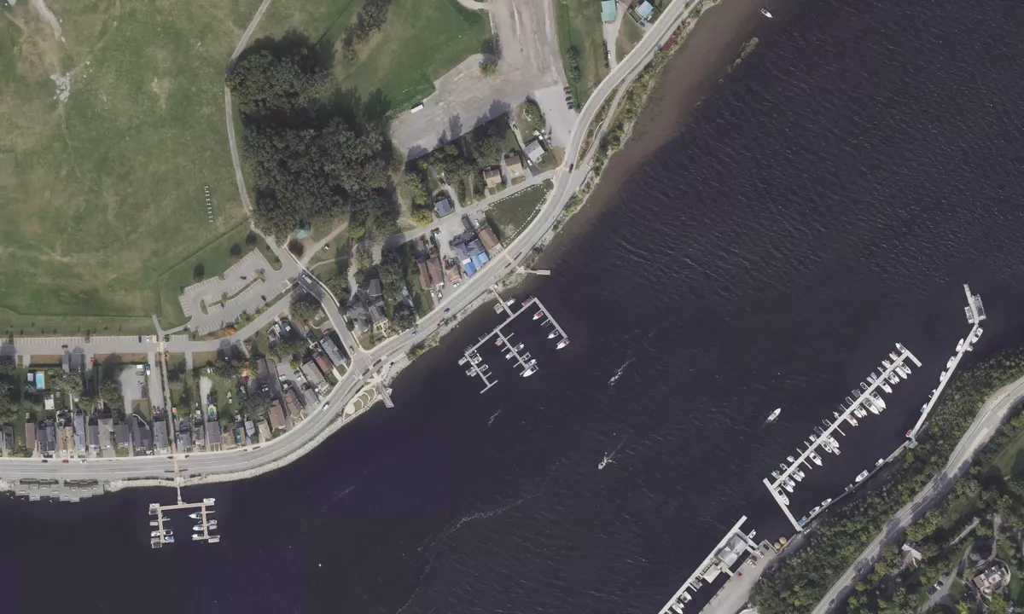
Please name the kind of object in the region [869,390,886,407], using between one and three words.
boat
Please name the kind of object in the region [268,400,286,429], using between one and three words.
house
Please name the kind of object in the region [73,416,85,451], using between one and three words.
house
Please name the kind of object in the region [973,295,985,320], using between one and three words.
boat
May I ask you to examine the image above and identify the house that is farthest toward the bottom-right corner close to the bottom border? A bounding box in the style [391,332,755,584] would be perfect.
[971,564,1007,595]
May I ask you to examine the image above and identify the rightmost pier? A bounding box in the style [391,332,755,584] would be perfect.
[910,284,980,448]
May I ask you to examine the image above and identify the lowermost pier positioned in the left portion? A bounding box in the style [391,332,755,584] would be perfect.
[150,485,220,544]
